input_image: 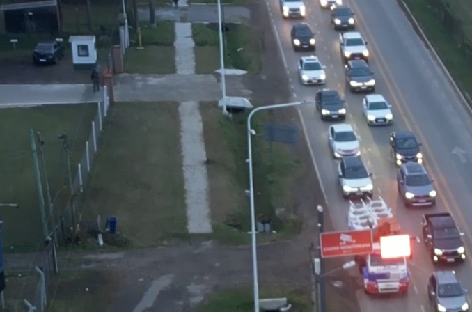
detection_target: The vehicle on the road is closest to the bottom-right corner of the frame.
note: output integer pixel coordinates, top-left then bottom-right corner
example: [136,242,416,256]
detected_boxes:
[425,265,468,312]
